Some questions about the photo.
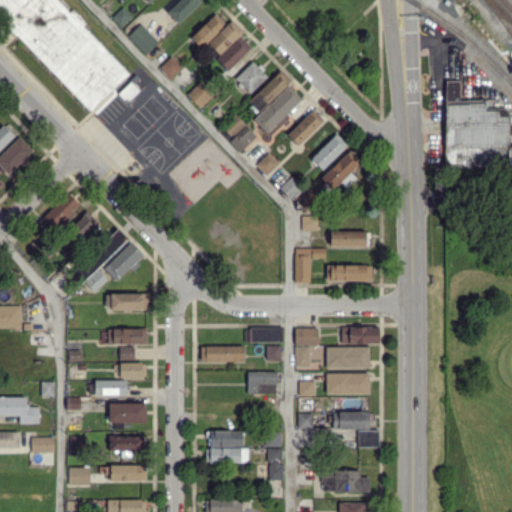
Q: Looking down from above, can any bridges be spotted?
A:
No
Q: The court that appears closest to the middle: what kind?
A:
basketball court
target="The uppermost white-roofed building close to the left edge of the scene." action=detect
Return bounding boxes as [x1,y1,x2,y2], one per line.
[0,0,128,116]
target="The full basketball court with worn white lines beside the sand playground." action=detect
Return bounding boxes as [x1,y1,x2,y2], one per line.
[138,112,201,173]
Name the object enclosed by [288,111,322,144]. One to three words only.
house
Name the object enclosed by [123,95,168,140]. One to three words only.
sports court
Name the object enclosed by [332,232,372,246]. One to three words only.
house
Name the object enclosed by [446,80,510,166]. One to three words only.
building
